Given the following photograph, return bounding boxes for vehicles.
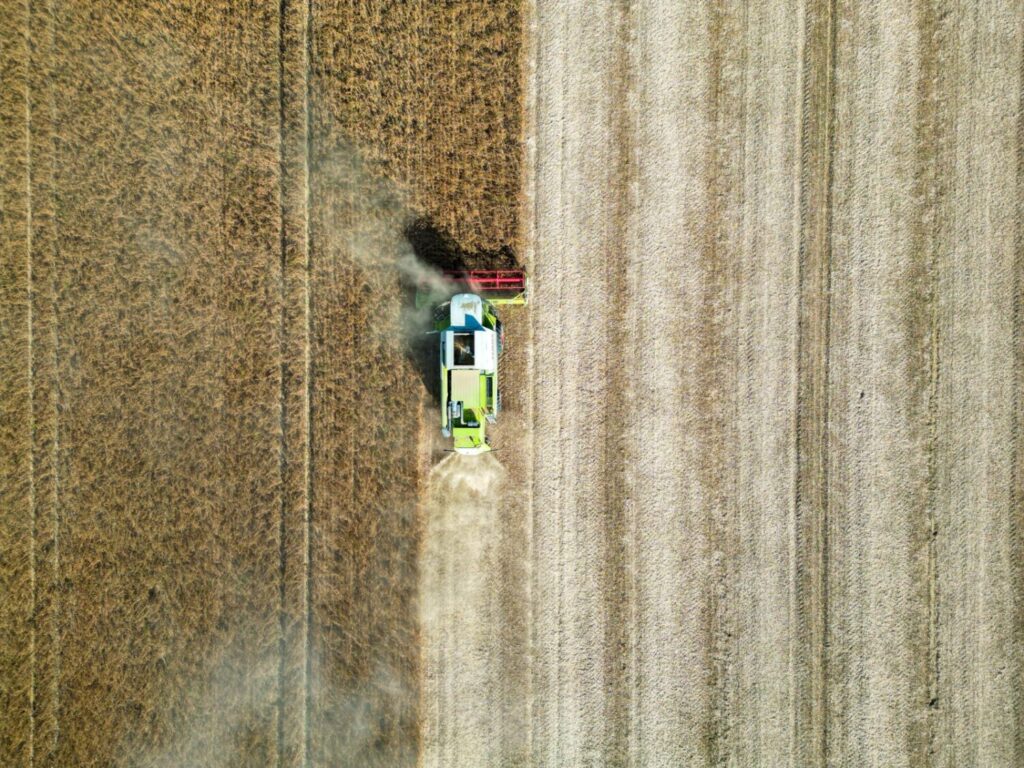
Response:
[415,264,528,457]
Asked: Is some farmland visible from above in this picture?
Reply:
Yes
